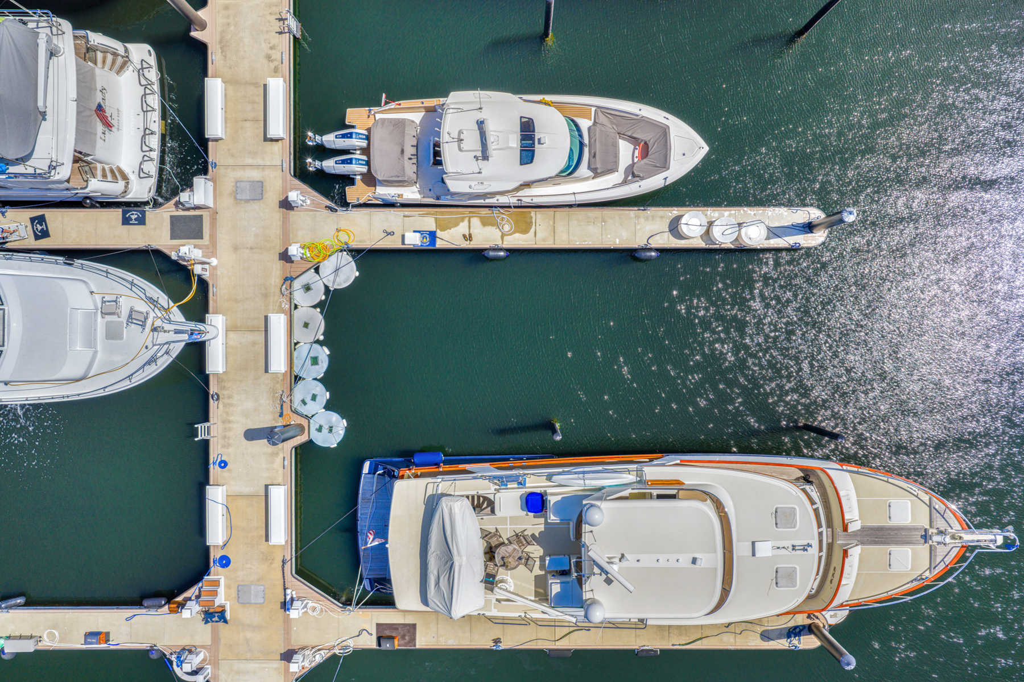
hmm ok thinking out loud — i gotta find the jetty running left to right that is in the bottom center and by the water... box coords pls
[292,603,829,650]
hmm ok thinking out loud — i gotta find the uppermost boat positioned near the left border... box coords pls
[0,0,167,210]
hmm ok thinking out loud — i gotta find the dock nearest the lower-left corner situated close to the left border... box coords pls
[0,603,211,650]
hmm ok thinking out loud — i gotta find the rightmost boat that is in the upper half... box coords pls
[305,86,709,209]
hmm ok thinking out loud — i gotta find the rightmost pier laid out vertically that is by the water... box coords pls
[156,0,345,682]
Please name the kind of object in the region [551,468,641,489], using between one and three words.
boat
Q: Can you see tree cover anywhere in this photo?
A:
No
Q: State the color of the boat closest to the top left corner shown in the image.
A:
white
